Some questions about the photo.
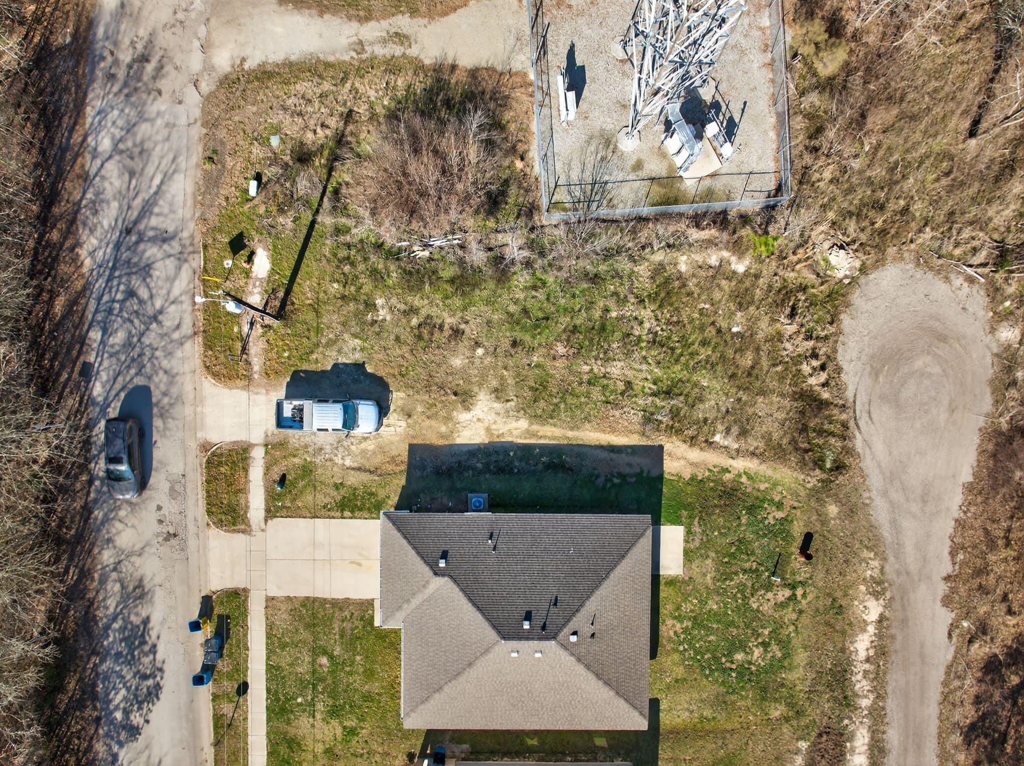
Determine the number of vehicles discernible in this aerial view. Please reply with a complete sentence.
Looking from above, you can make out 2 vehicles.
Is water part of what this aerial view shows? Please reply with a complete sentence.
No, there is no water in the image.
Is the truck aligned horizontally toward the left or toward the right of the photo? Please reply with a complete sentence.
You can find the truck aligned horizontally on the left side of the picture.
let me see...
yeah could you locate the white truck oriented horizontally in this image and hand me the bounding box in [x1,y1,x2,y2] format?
[276,393,386,440]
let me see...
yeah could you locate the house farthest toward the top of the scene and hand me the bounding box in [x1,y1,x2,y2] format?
[378,511,651,731]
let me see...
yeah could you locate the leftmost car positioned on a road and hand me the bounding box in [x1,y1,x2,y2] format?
[99,419,147,499]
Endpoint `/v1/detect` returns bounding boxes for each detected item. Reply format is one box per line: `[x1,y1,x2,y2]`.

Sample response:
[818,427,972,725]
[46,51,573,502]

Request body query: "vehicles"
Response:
[99,419,147,499]
[276,393,386,440]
